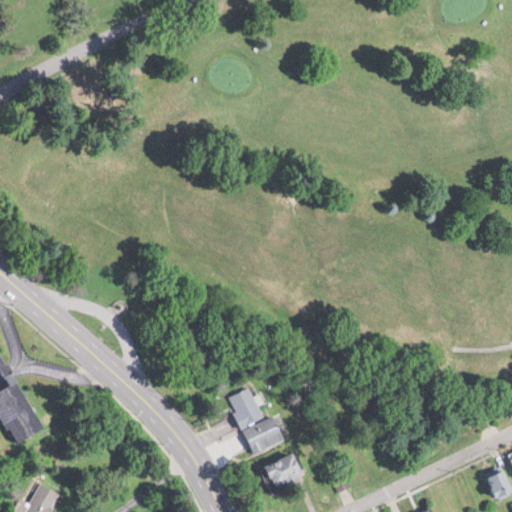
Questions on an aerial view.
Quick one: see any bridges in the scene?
No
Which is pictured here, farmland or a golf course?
golf course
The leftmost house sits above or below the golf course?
below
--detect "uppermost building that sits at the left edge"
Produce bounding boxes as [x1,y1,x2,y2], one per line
[0,386,40,442]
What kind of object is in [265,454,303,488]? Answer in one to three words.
house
